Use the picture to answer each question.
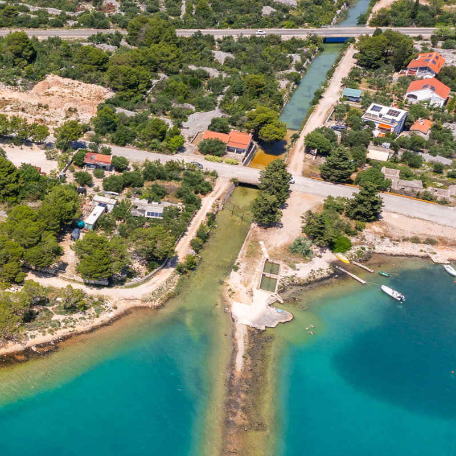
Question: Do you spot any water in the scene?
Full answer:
Yes, there's water in this view.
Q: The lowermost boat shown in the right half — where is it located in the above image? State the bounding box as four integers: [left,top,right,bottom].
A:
[380,284,408,301]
